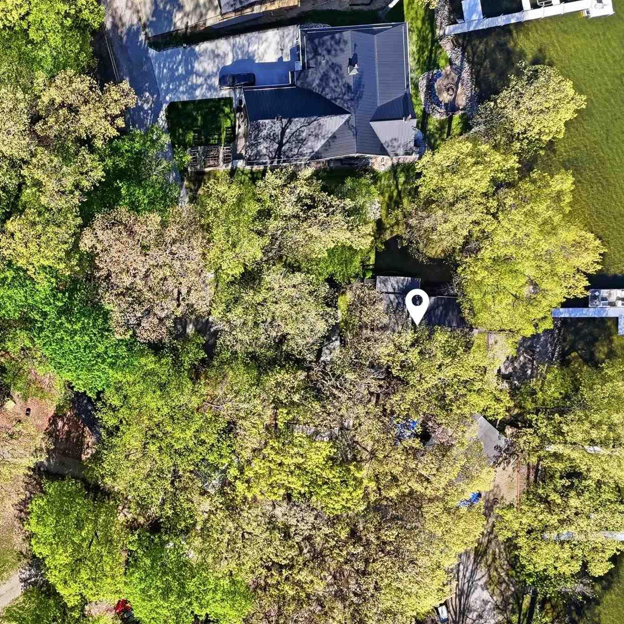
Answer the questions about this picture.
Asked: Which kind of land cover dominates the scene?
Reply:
trees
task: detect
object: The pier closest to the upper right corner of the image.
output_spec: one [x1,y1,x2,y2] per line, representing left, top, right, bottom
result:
[446,0,617,35]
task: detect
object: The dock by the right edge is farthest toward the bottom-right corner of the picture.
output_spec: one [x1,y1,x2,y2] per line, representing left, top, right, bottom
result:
[545,529,624,542]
